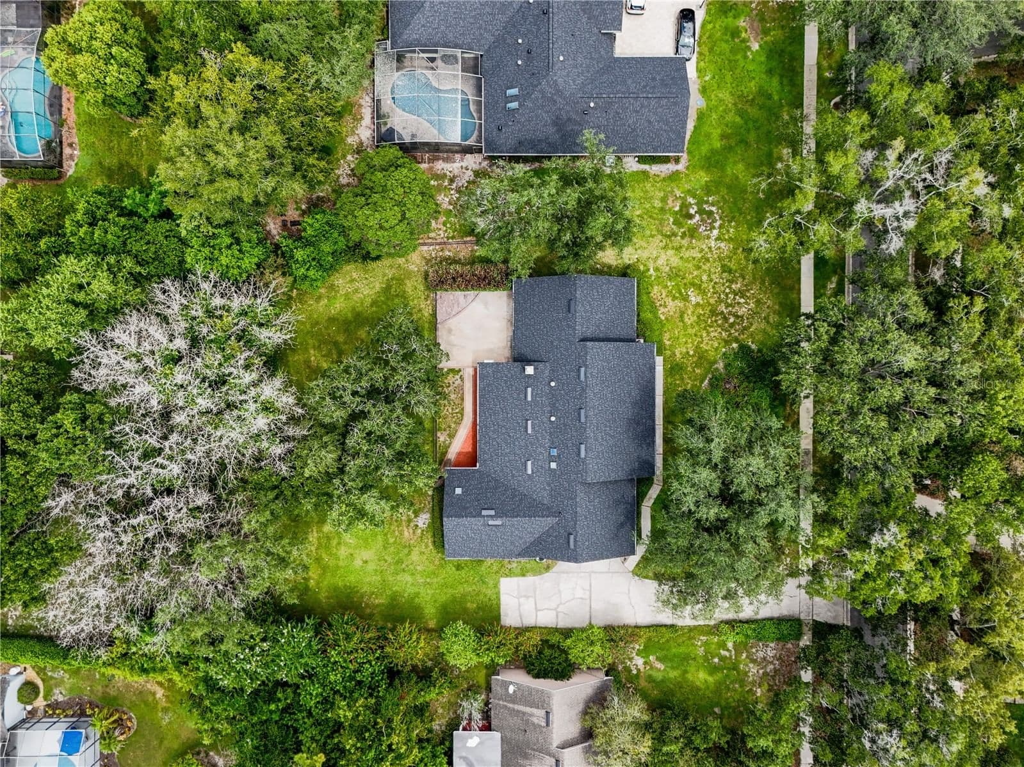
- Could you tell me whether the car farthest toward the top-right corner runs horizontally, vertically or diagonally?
vertically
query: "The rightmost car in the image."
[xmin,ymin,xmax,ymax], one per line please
[675,10,697,61]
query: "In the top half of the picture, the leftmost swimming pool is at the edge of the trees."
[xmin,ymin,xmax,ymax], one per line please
[0,56,53,155]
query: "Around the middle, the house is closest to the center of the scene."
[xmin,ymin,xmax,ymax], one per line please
[442,275,657,563]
